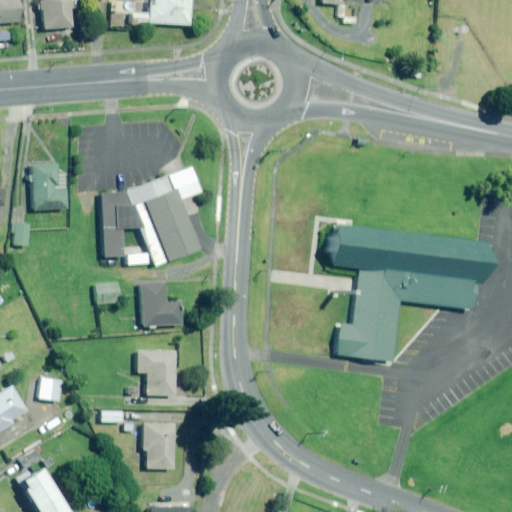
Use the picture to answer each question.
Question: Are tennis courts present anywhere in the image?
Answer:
No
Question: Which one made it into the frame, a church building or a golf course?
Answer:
church building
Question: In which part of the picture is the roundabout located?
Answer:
top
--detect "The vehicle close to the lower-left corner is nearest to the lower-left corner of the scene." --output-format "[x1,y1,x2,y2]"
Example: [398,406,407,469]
[4,464,20,476]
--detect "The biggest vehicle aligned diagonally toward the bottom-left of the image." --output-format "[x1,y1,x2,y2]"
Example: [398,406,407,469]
[38,418,63,436]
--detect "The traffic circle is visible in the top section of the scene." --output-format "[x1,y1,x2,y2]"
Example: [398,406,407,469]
[206,34,306,132]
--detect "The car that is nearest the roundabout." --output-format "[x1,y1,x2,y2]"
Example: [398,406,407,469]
[266,24,279,40]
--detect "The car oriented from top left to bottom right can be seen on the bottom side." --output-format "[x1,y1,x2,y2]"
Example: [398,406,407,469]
[269,420,284,435]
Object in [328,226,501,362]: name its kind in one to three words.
church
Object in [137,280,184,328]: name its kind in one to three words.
house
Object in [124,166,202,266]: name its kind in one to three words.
building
